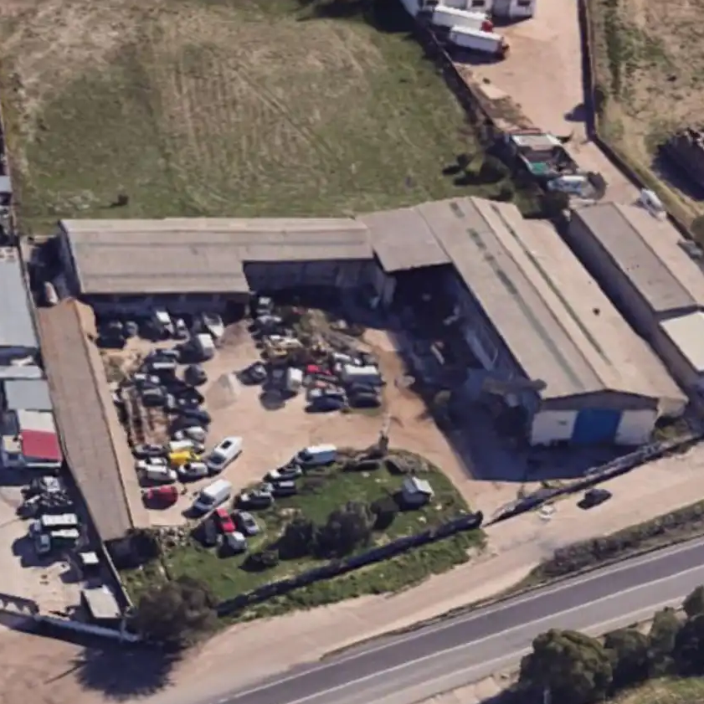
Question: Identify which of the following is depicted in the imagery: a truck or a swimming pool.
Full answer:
Looking from above, you can make out a truck.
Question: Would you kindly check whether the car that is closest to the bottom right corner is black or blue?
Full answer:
The car that is closest to the bottom right corner is black.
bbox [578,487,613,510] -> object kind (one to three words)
car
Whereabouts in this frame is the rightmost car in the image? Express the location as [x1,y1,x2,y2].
[682,239,704,264]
